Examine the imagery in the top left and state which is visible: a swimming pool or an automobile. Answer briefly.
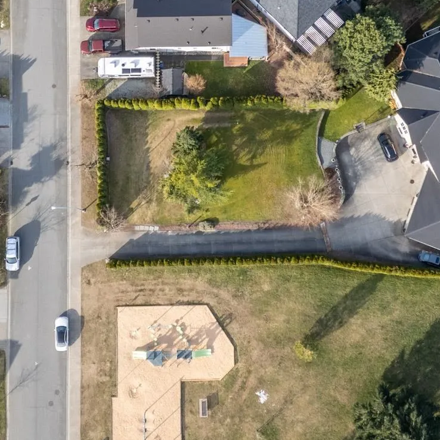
automobile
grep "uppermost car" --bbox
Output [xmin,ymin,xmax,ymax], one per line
[87,15,120,33]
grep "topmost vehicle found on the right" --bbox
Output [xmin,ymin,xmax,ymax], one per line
[376,129,399,164]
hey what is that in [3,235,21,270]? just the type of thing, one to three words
car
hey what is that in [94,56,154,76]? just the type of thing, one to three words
trailer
